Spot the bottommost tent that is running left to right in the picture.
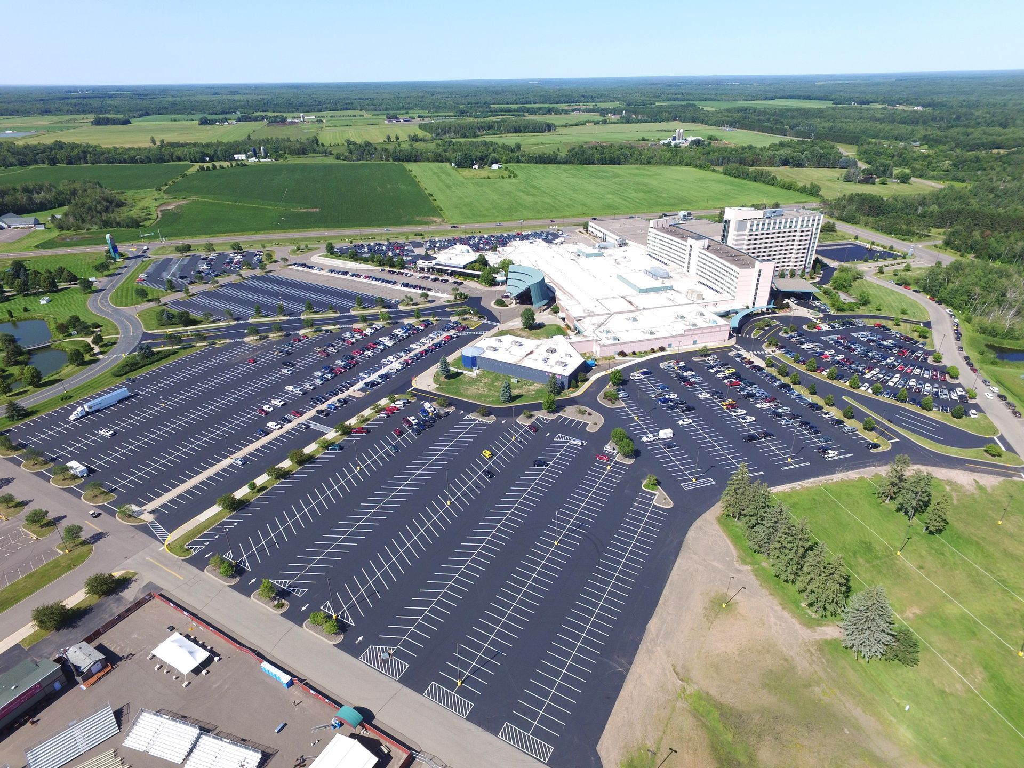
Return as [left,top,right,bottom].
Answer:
[308,733,381,768]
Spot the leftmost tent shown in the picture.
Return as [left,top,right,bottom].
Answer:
[150,632,215,682]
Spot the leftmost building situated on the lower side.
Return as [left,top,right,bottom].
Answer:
[0,652,67,732]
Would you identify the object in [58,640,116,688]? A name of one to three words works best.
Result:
building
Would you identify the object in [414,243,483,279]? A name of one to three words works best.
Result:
building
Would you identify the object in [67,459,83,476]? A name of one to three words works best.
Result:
vehicle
